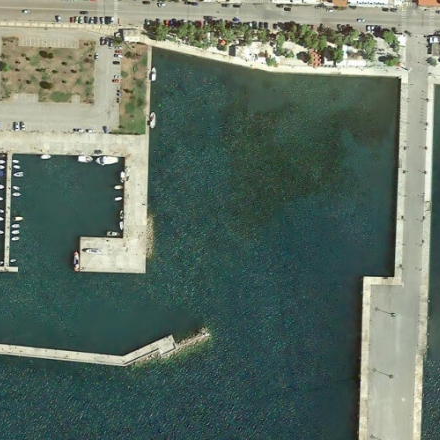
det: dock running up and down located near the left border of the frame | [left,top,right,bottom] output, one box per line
[0,154,18,272]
